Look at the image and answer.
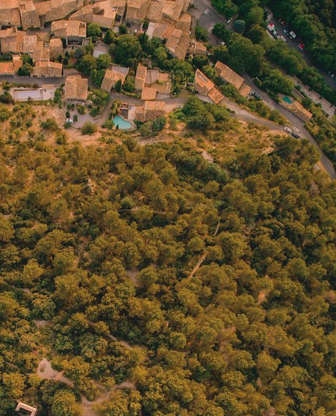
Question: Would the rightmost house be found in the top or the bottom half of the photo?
top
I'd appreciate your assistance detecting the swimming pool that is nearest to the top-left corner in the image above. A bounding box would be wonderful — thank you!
[11,85,46,103]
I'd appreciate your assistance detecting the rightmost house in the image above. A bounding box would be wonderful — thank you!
[285,98,315,123]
